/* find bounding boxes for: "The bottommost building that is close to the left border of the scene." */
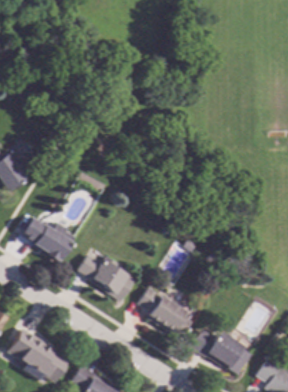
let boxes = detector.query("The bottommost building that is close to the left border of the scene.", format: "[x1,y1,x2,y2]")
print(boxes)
[8,330,70,382]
